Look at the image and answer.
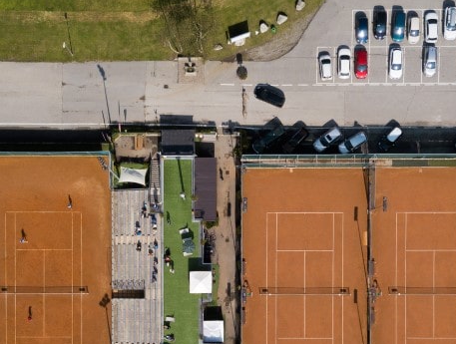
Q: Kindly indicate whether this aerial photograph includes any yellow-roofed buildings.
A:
No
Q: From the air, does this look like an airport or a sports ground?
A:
sports ground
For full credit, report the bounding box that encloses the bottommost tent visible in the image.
[202,320,224,344]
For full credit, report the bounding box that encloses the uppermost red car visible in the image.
[354,49,369,78]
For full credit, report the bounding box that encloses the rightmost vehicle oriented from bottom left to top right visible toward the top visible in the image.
[377,124,403,151]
